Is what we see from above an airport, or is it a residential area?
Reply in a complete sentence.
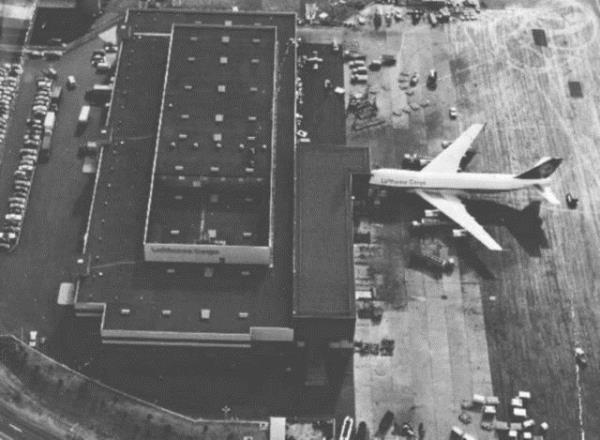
The area seen from above is an airport.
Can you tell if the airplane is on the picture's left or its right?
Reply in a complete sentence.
You can find the airplane on the right side of the picture.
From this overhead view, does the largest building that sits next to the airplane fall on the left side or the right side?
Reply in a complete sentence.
The largest building that sits next to the airplane sits on the left side.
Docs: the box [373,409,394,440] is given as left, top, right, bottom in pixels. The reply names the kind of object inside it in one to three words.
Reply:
bus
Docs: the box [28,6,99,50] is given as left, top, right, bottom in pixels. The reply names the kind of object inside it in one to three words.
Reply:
shed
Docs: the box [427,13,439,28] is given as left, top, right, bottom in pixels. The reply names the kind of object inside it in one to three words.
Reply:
vehicle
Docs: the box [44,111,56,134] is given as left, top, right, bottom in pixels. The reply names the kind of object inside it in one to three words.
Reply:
vehicle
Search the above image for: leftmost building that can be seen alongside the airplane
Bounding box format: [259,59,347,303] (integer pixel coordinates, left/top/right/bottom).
[74,5,296,350]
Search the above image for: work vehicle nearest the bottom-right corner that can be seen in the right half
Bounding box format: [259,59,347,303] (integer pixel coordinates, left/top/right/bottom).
[571,348,588,364]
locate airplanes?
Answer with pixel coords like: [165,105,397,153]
[368,123,566,247]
